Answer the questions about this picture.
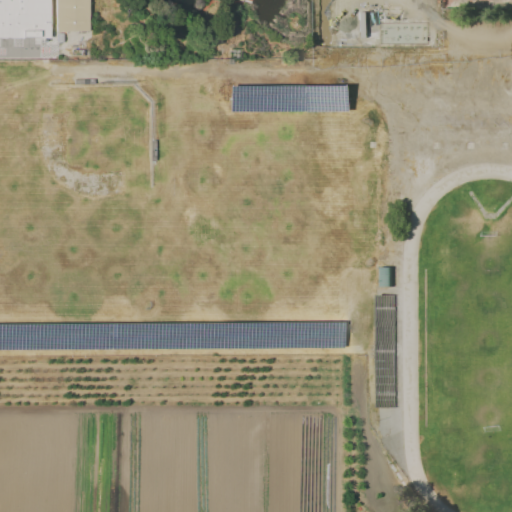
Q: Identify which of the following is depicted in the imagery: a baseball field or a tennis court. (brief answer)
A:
baseball field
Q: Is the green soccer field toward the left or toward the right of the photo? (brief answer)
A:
right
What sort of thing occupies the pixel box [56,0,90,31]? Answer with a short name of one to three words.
shed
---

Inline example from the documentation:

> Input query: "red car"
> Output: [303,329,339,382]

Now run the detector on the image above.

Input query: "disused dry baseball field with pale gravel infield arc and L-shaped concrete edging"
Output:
[40,80,154,192]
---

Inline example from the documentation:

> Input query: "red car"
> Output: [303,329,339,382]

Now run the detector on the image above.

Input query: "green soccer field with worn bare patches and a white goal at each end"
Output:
[427,236,512,428]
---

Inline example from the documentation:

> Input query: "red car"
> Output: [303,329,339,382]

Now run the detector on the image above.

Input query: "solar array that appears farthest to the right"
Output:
[377,294,396,407]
